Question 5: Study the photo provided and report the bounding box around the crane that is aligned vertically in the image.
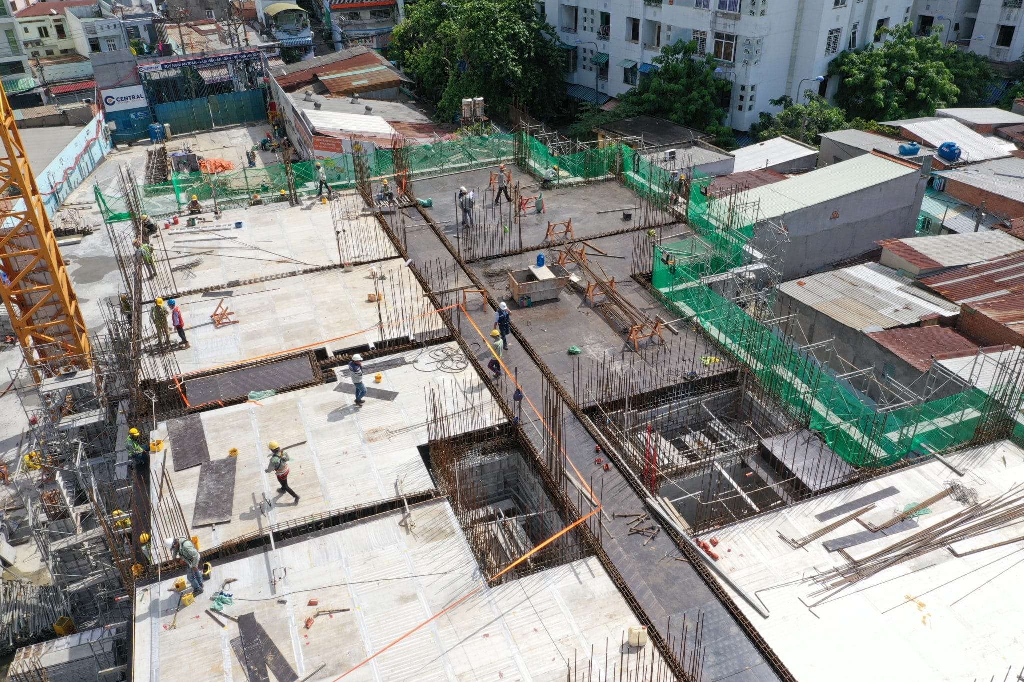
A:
[0,90,110,447]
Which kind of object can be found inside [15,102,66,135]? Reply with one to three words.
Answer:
house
